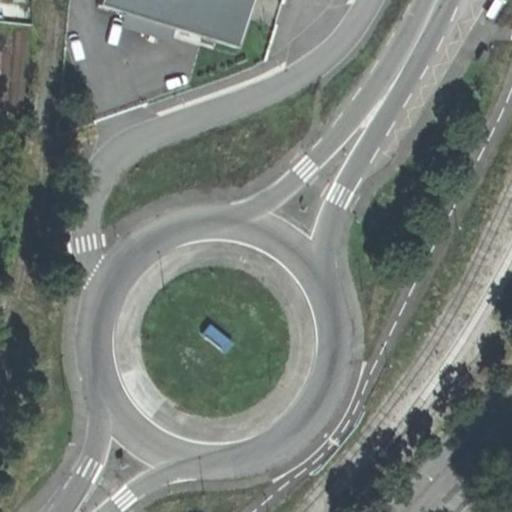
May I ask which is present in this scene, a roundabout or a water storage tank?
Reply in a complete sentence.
It is a roundabout that can be seen here.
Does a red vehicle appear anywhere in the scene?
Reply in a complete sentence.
No, there appears to be no red vehicle in this shot.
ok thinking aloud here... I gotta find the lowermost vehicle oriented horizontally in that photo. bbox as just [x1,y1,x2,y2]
[164,75,188,90]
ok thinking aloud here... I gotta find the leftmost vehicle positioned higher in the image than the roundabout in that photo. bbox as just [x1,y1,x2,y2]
[68,32,84,63]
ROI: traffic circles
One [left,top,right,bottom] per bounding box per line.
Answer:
[78,203,354,480]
